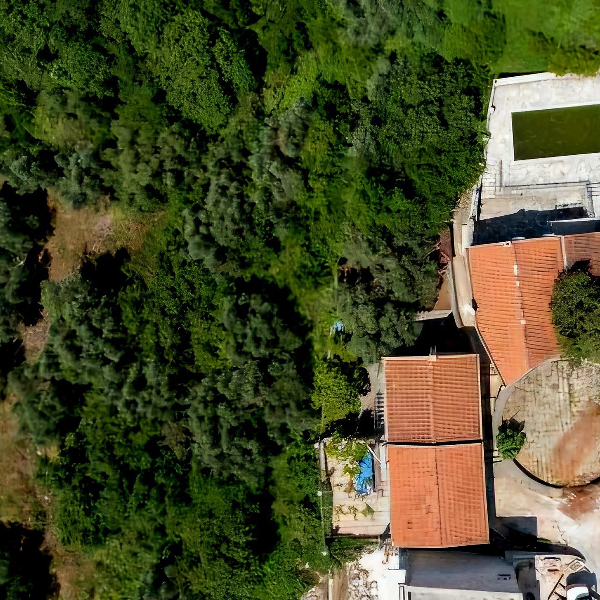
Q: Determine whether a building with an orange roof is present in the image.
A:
Yes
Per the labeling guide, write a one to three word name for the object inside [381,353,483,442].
house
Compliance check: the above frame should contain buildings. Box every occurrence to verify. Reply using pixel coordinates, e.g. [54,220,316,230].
[387,443,490,548]
[469,235,566,385]
[399,584,523,600]
[381,353,483,442]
